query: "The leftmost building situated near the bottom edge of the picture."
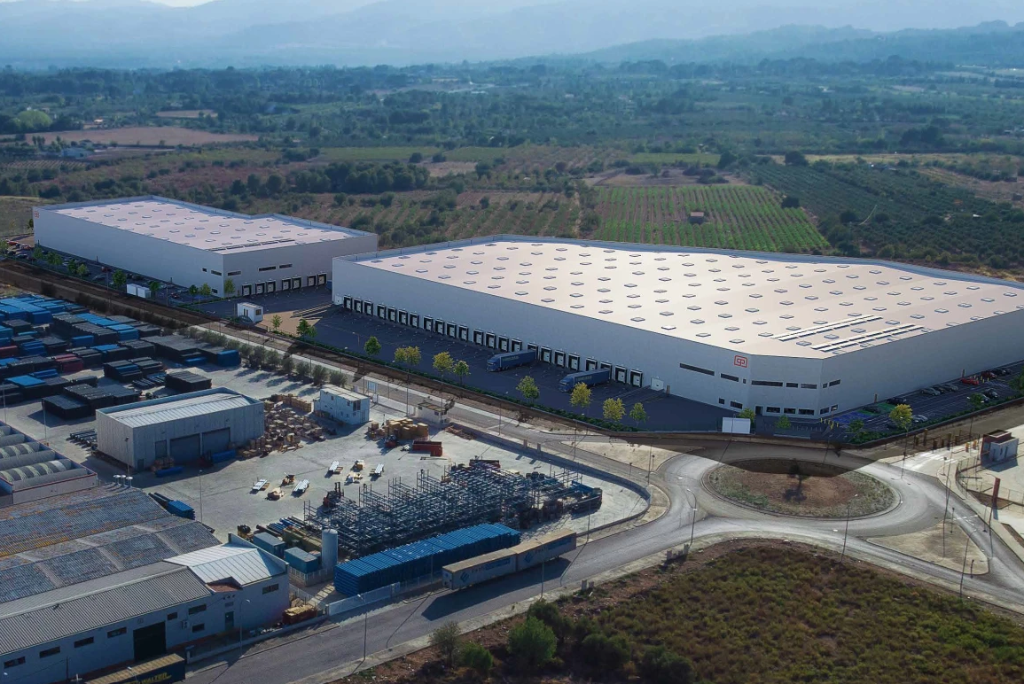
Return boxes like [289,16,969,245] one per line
[0,483,223,684]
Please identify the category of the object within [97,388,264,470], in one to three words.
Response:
building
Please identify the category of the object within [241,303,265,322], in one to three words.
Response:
building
